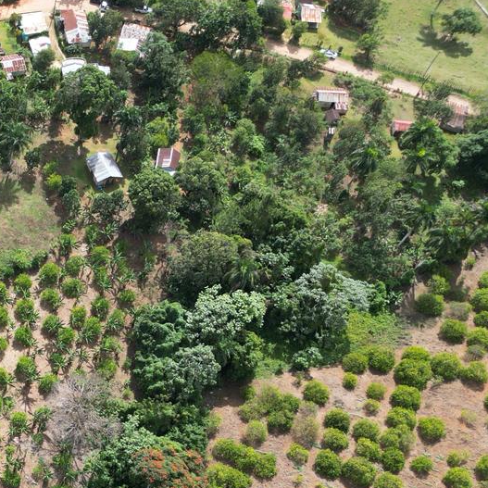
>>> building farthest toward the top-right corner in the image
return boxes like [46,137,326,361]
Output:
[443,102,468,136]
